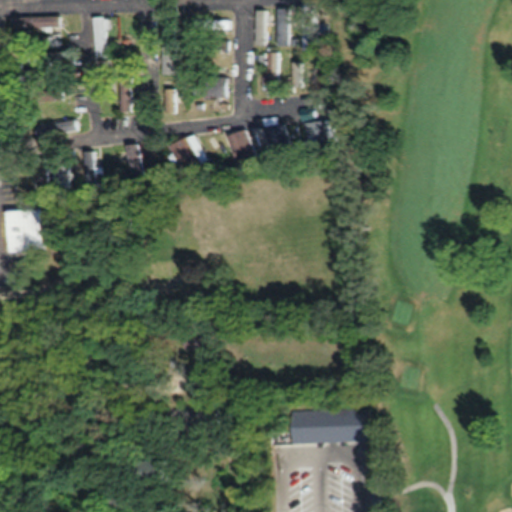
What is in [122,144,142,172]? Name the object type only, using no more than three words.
house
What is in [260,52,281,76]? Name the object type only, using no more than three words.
house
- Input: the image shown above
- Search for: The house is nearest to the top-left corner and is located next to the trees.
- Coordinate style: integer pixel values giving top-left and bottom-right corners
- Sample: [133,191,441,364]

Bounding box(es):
[18,14,62,34]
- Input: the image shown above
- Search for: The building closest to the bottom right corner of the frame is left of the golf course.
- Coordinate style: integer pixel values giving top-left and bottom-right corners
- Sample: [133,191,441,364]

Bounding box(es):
[291,410,360,444]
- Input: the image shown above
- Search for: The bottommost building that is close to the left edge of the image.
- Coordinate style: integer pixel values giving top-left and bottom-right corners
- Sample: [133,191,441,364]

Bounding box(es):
[3,210,44,253]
